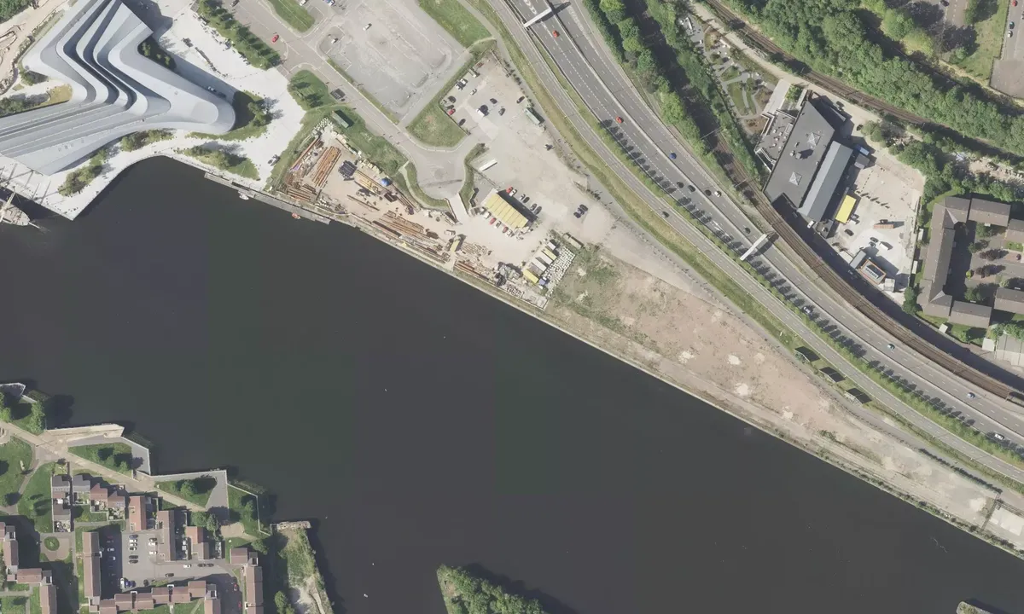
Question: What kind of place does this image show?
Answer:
port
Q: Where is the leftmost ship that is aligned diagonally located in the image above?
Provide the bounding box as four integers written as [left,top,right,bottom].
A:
[0,191,38,228]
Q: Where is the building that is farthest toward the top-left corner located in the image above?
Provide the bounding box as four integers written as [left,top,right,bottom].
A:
[0,0,235,175]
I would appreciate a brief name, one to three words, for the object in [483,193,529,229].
building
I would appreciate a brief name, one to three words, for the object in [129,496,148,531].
house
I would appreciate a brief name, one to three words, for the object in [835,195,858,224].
building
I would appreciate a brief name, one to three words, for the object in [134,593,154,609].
house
